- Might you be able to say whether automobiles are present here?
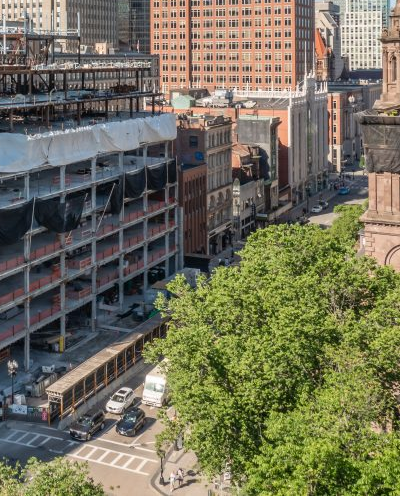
Yes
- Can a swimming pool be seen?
No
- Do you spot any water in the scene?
No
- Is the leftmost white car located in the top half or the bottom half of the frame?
bottom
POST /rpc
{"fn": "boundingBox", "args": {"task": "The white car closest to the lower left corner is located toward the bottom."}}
[103,386,134,413]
